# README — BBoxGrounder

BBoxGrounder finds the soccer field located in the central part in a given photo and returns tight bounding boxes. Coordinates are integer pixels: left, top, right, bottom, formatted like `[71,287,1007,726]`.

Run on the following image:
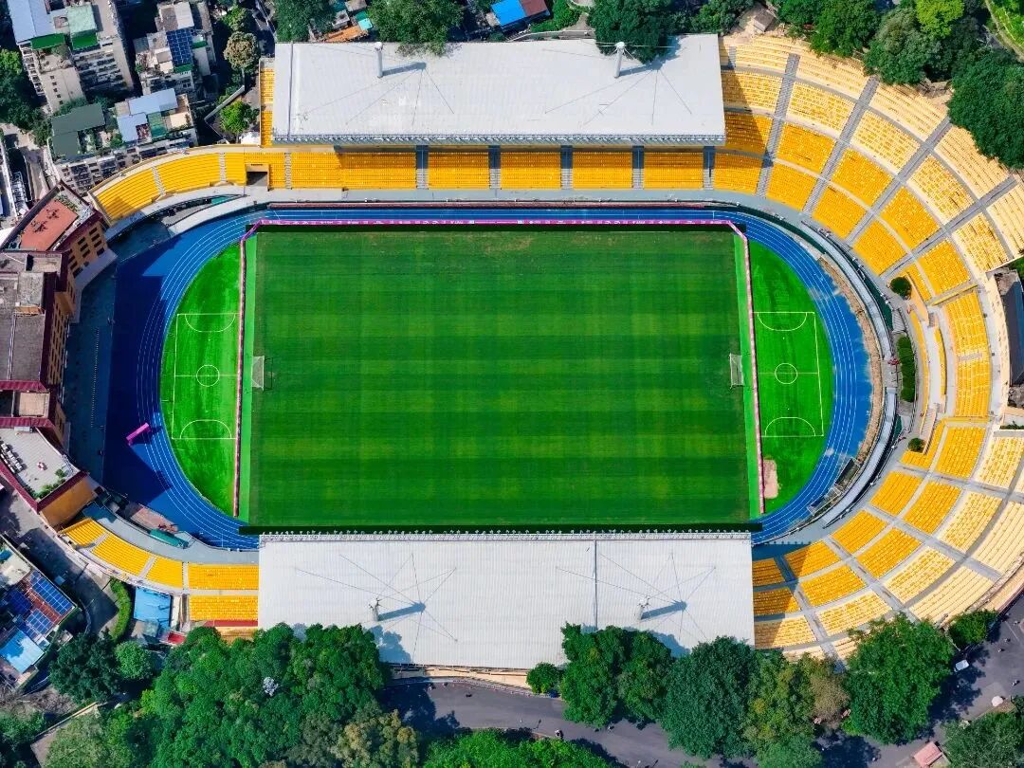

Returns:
[238,224,762,534]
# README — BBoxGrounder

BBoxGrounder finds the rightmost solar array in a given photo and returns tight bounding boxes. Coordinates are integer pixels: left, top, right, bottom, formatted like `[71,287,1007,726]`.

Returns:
[166,28,194,67]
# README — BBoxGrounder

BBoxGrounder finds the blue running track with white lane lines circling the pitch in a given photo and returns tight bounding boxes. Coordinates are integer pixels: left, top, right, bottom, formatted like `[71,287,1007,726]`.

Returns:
[102,207,873,550]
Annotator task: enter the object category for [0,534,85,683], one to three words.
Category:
house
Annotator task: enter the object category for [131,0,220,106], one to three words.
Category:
building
